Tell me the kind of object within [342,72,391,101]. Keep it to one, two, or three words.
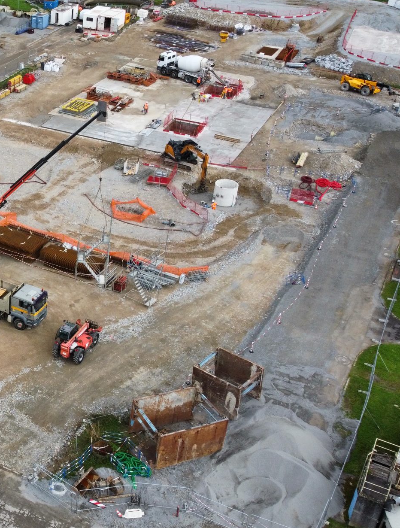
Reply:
work vehicle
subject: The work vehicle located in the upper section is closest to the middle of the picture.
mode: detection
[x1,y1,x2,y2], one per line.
[160,141,214,180]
